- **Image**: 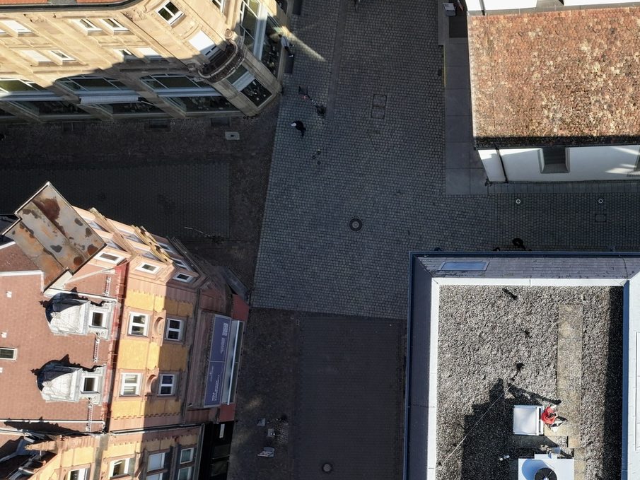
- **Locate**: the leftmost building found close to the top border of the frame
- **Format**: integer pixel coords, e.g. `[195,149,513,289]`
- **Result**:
[0,0,297,126]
